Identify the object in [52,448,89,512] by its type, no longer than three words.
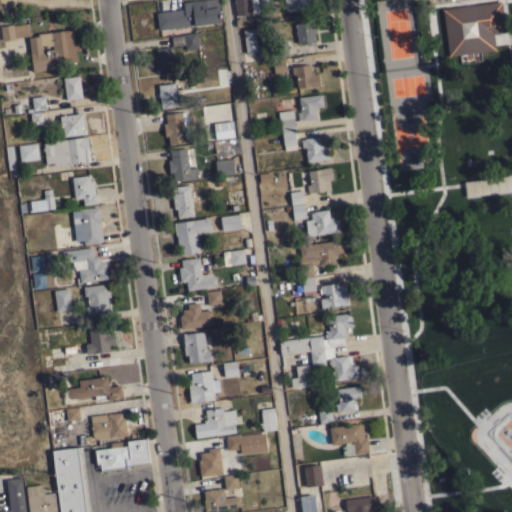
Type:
building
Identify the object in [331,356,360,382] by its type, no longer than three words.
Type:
house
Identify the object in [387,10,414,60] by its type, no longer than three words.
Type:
sports court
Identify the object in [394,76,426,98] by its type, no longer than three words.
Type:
sports court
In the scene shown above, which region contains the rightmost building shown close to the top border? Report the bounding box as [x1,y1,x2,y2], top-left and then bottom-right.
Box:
[444,2,504,58]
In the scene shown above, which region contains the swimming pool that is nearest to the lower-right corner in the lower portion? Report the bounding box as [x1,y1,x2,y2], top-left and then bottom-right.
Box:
[308,430,327,444]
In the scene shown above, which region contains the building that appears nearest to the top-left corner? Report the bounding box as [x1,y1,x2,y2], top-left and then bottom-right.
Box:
[0,23,32,41]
